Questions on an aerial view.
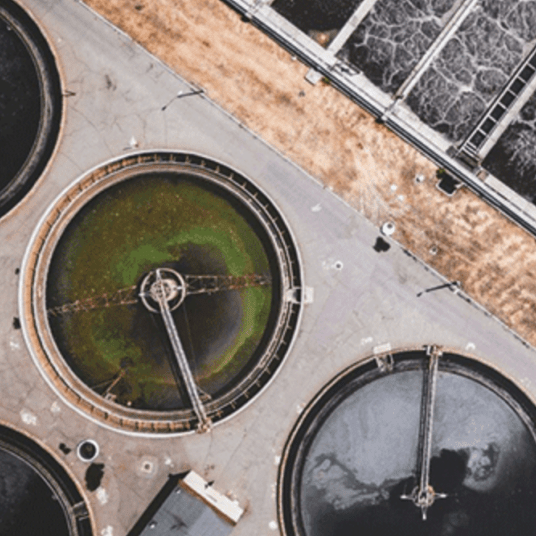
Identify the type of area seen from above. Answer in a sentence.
What you see here is an industrial area.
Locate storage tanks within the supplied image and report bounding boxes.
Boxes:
[18,151,312,437]
[277,345,536,536]
[0,0,63,224]
[0,424,96,536]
